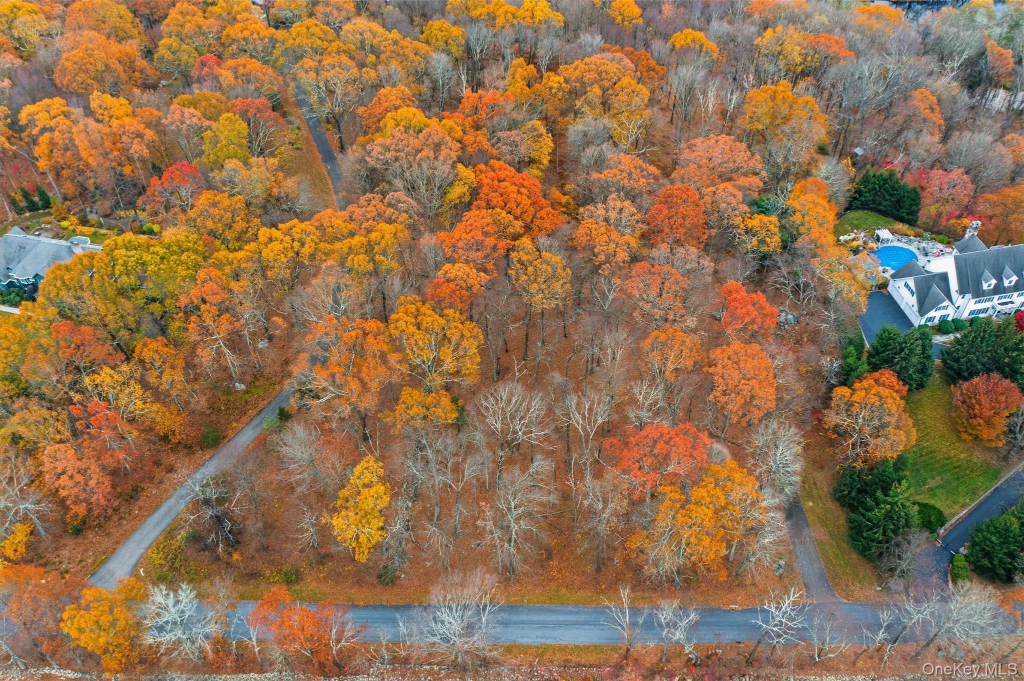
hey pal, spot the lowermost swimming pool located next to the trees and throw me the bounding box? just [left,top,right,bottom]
[868,243,922,271]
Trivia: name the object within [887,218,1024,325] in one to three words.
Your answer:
house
